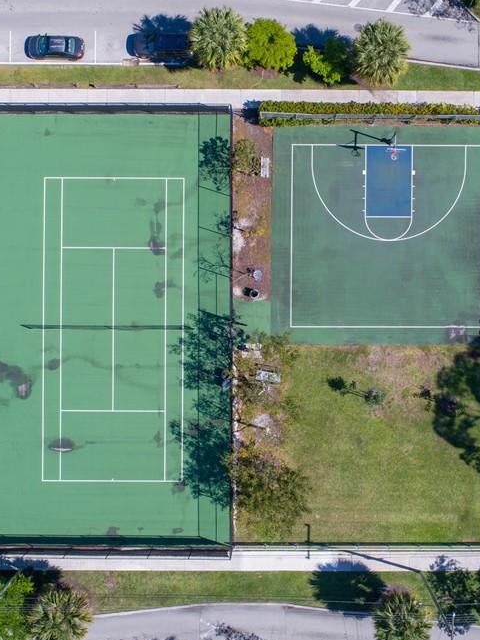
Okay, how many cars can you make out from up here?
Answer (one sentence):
My tally gives 2 cars in this view.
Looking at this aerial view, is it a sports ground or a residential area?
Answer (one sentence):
The area seen from above is a sports ground.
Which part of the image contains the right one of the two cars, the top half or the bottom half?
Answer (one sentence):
The right one of the two cars is in the top half of the image.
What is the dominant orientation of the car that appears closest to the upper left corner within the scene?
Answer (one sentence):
Seen from above, the car that appears closest to the upper left corner lies horizontally.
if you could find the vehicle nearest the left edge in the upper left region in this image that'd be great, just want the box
[27,33,86,63]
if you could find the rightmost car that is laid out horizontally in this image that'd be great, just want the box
[128,32,193,63]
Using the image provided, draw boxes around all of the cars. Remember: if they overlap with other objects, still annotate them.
[27,33,86,63]
[128,32,193,63]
